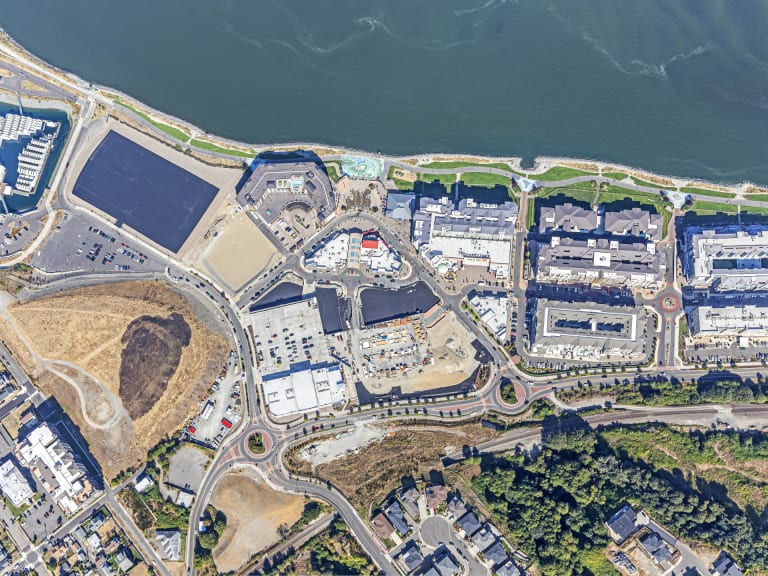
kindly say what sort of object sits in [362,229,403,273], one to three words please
building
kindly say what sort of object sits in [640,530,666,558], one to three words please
house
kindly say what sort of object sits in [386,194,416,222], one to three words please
building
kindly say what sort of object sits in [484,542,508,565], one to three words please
house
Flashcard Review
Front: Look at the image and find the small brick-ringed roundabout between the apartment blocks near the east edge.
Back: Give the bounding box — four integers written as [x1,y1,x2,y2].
[654,284,687,317]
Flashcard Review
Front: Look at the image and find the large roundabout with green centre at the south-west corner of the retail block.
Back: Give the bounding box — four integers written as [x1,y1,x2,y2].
[236,422,278,464]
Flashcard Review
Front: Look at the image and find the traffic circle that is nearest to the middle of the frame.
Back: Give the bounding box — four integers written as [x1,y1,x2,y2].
[489,371,532,415]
